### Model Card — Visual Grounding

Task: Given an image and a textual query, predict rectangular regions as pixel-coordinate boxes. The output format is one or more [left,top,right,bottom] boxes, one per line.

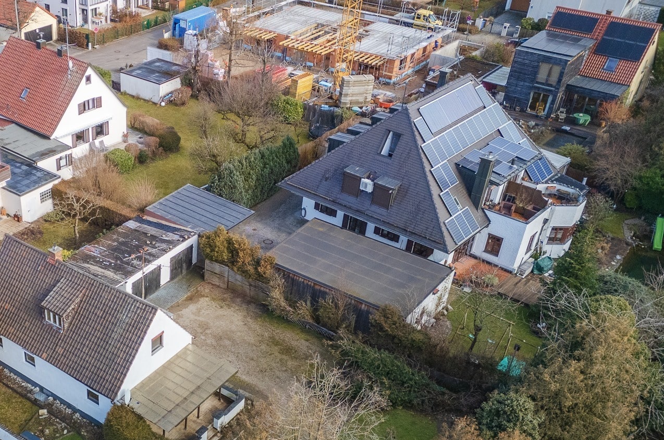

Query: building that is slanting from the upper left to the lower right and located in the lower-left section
[0,230,257,440]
